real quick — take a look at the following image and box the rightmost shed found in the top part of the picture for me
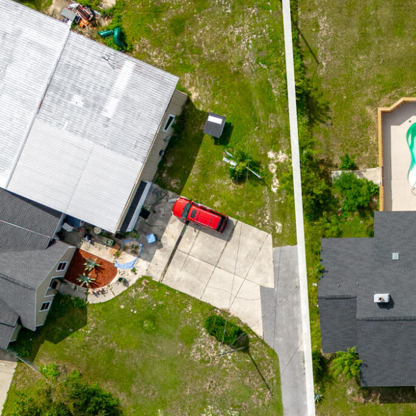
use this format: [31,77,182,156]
[203,113,227,138]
